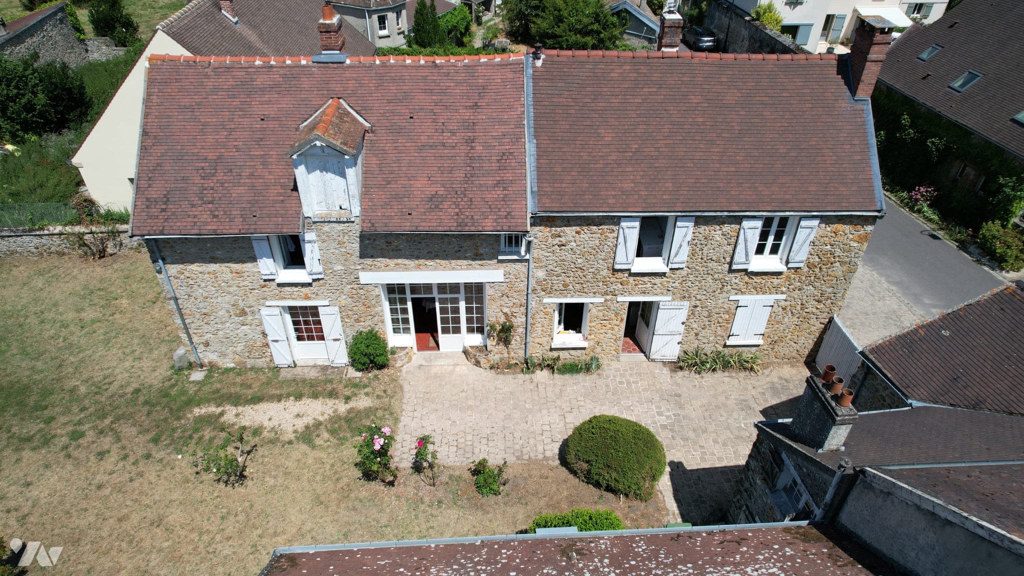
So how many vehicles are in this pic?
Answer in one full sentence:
In total, there is 1 vehicle in the scene.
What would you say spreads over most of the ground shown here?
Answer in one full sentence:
The bulk of the photo consists of buildings.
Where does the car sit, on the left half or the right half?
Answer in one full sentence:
The car appears in the right half of the scene.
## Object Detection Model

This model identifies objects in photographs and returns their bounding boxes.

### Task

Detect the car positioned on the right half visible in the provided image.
[679,7,724,46]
